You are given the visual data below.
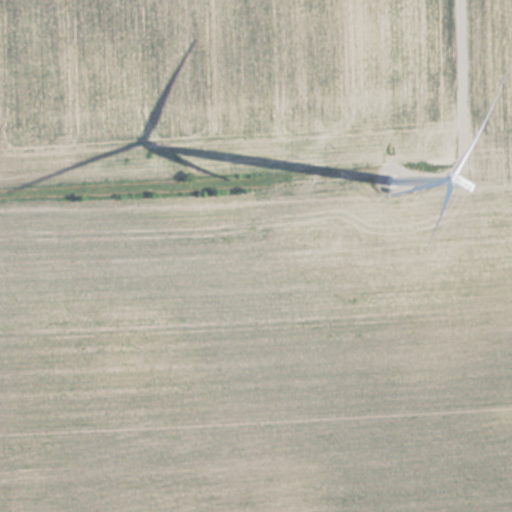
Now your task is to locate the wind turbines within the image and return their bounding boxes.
[383,77,506,240]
